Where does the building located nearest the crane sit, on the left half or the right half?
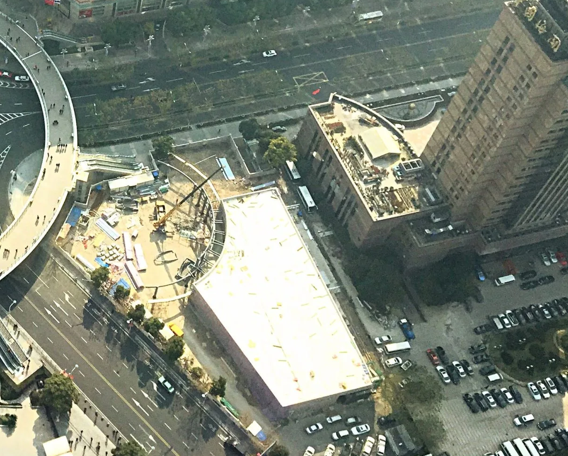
left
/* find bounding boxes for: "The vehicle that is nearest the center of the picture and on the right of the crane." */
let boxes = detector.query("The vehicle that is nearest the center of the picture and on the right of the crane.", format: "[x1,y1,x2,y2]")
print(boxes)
[295,189,316,215]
